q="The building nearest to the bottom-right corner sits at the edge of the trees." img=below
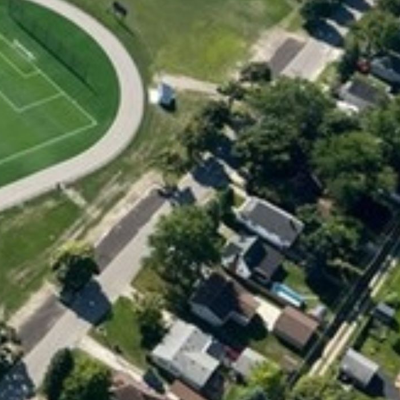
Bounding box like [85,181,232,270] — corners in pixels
[336,349,381,389]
